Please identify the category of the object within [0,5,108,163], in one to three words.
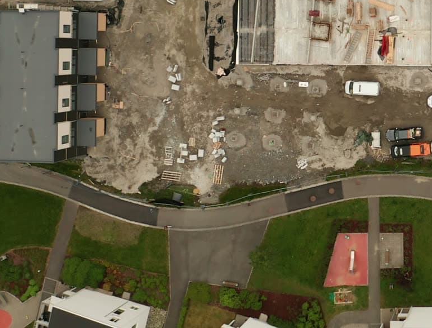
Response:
house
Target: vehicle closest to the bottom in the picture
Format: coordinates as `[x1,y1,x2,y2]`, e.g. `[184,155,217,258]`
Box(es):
[392,143,430,156]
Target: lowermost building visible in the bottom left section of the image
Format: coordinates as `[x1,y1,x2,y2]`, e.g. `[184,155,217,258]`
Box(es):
[44,284,150,328]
